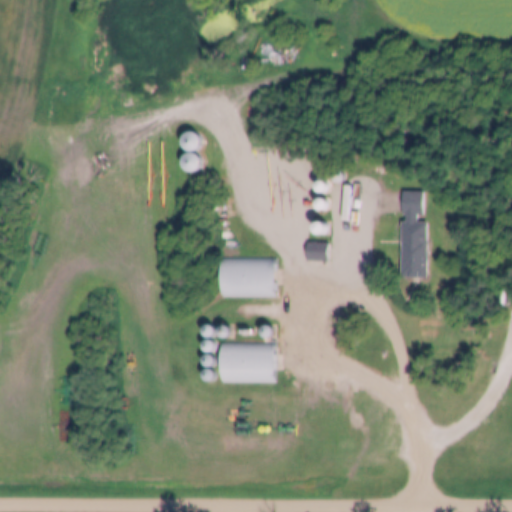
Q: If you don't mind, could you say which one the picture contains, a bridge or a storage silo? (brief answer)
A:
storage silo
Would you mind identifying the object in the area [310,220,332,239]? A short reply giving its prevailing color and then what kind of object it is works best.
white silo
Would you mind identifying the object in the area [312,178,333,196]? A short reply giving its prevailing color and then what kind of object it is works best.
white silo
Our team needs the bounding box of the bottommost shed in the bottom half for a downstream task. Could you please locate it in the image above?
[222,344,285,385]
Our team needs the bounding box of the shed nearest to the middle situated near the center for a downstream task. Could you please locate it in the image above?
[222,259,285,298]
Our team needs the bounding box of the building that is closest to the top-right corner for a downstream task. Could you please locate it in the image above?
[400,190,431,282]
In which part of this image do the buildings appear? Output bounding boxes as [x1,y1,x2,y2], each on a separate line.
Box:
[400,190,431,282]
[305,244,331,262]
[222,259,285,298]
[222,344,285,385]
